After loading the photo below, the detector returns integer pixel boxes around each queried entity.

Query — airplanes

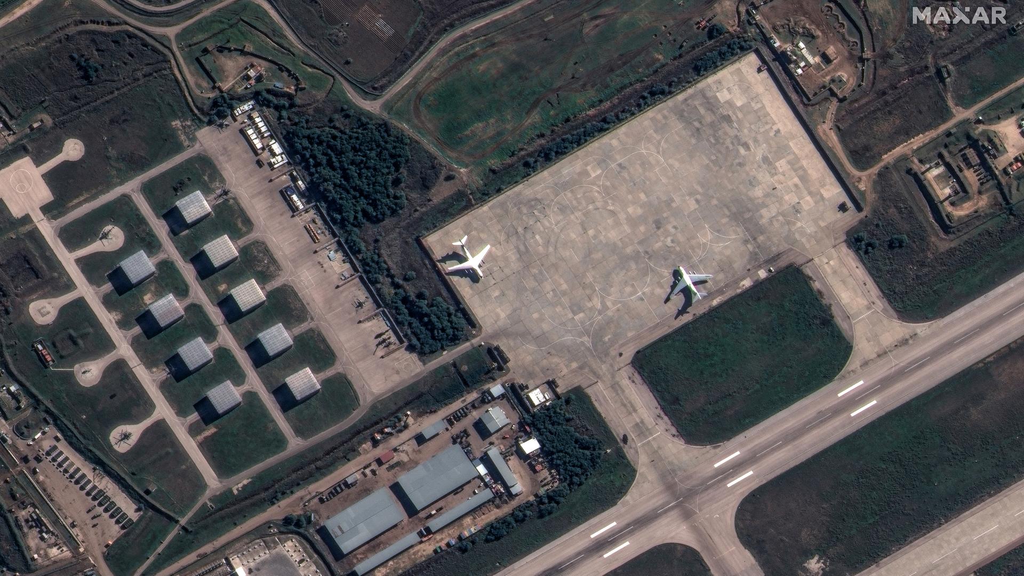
[449,236,489,279]
[674,266,714,306]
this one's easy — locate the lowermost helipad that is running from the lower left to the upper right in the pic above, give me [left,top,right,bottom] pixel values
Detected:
[109,406,164,452]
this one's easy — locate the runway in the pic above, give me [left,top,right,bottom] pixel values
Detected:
[490,273,1024,576]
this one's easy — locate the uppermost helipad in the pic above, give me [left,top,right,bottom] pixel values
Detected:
[38,139,84,175]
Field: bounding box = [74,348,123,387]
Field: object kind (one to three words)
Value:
helipad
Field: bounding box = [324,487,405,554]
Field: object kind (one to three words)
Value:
building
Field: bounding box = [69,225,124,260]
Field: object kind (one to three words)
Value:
helipad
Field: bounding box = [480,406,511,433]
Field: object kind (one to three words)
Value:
building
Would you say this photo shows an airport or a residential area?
airport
